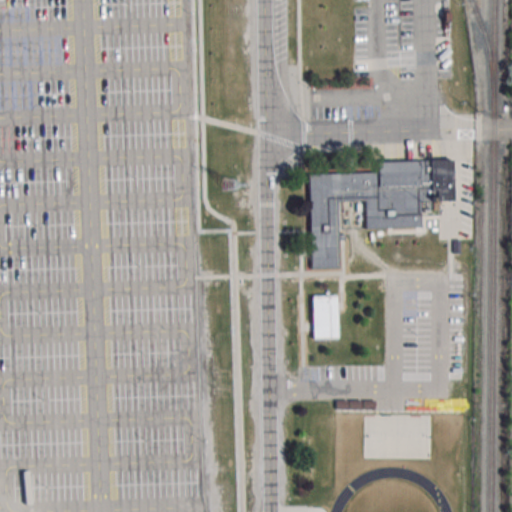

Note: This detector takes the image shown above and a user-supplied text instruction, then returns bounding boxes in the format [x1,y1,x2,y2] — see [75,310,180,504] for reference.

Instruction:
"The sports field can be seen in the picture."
[330,412,462,512]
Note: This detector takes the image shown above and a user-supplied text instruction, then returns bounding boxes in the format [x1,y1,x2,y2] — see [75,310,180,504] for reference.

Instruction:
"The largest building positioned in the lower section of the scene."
[310,290,340,342]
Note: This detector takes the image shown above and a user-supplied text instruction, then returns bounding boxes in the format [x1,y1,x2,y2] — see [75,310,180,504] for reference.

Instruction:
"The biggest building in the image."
[308,157,456,269]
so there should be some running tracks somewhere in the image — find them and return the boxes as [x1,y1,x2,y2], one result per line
[332,468,452,512]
